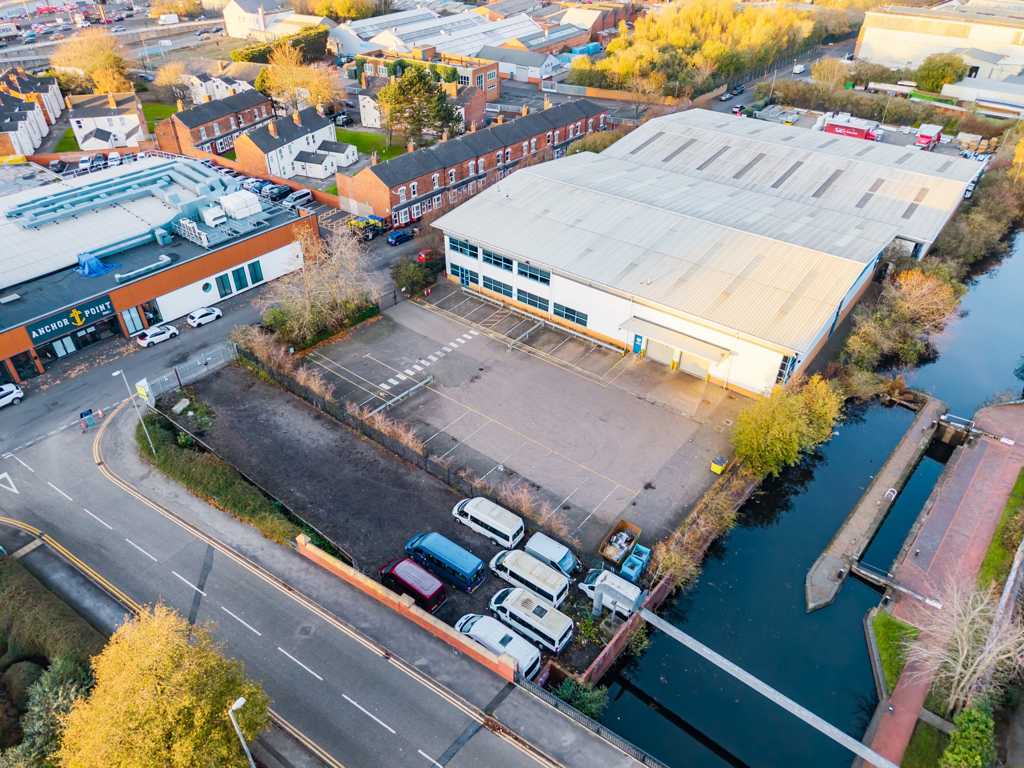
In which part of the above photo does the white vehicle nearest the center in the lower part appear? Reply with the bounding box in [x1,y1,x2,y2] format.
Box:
[442,487,518,546]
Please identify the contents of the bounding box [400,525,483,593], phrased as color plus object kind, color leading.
blue vehicle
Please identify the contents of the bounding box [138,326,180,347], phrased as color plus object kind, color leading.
white car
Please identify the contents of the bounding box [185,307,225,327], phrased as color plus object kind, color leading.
white car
